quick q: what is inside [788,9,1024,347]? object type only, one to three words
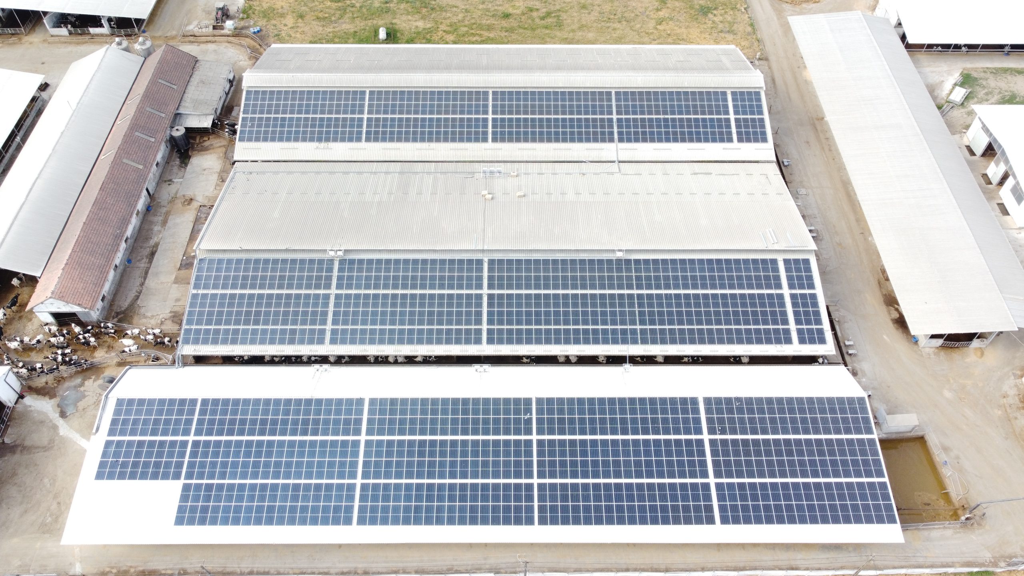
barn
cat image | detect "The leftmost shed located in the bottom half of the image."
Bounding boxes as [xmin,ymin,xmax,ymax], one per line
[0,365,28,414]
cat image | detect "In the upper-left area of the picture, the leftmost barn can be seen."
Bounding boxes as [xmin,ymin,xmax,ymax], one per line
[0,68,52,182]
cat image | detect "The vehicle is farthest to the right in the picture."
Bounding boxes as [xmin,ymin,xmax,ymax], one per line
[214,3,230,25]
